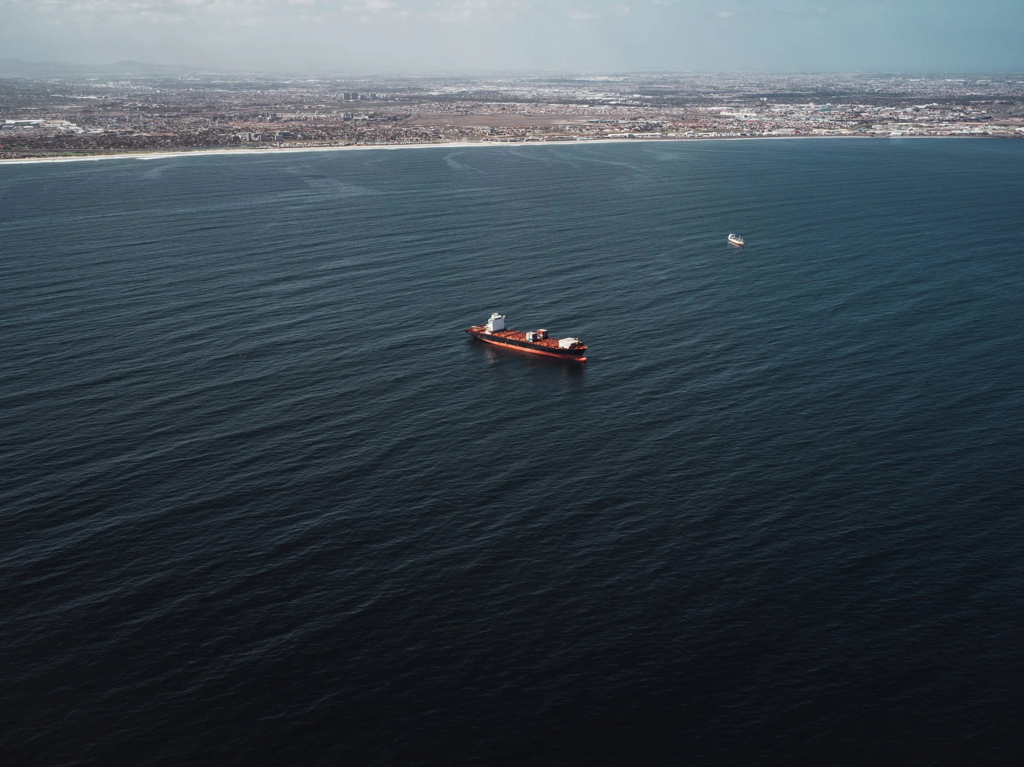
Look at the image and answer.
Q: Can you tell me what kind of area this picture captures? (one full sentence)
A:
The area seen from above is a port.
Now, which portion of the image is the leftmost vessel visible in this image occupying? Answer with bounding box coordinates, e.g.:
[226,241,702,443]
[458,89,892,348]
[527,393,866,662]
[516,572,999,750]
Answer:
[464,310,589,362]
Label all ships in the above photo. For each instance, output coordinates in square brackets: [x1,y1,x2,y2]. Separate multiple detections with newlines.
[464,310,589,362]
[728,234,745,246]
